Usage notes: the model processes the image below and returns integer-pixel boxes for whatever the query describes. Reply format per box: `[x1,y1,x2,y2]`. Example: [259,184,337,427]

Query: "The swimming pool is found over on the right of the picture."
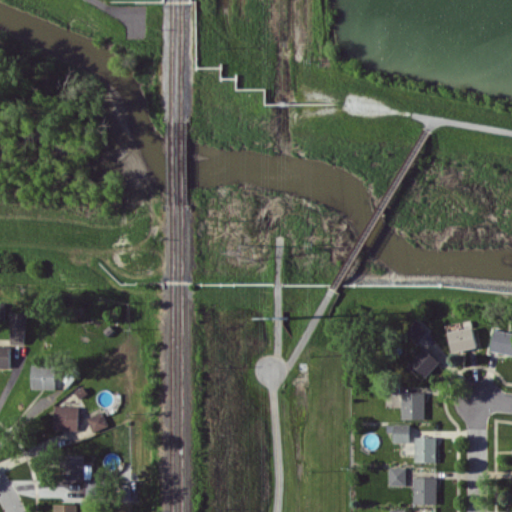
[360,432,382,455]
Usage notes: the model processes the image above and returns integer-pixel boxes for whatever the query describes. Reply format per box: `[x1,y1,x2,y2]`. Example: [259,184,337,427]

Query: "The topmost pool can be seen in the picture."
[96,390,122,415]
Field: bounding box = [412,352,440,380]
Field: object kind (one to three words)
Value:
building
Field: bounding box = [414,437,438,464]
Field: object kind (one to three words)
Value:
house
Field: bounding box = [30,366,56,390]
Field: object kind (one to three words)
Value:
building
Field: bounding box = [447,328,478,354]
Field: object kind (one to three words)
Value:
house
